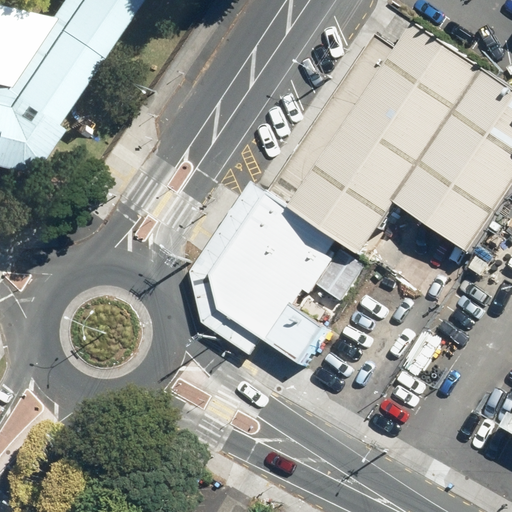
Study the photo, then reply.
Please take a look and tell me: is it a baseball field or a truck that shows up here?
truck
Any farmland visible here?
No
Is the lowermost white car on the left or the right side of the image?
right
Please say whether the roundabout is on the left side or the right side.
left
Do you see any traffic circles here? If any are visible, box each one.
[6,232,208,418]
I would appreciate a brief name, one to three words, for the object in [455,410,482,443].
car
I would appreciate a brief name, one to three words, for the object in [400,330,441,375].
truck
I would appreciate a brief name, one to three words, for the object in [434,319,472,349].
vehicle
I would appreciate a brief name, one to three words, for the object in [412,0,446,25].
car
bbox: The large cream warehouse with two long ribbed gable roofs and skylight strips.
[266,22,512,256]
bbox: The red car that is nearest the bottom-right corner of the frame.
[377,398,412,424]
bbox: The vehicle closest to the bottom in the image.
[264,454,298,474]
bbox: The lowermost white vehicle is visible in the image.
[470,418,495,449]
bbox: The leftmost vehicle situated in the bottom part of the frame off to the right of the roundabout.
[239,380,270,406]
